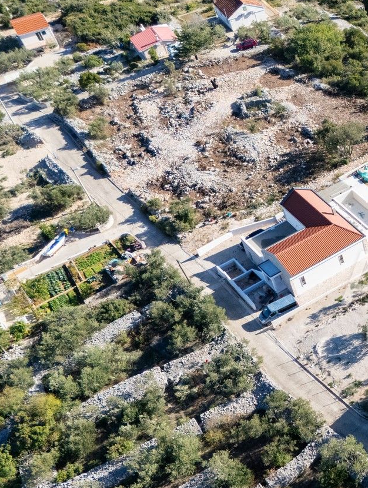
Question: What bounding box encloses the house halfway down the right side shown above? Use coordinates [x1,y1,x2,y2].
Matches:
[254,187,368,296]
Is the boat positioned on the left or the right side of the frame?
left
